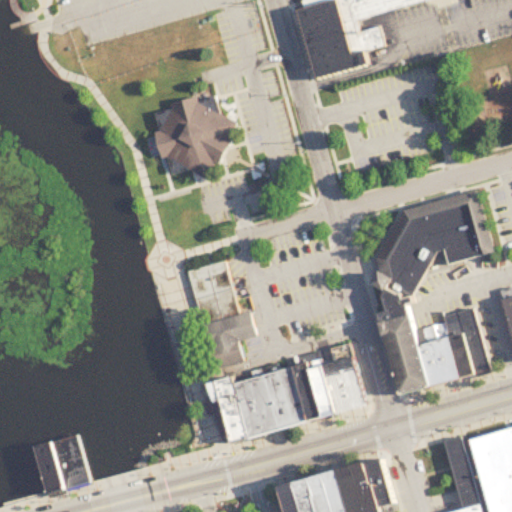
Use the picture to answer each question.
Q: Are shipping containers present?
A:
No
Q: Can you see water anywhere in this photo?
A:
Yes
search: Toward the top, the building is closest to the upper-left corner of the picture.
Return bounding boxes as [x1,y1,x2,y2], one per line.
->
[154,93,236,166]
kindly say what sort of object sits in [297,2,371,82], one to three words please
building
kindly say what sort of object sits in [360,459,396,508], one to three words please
building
